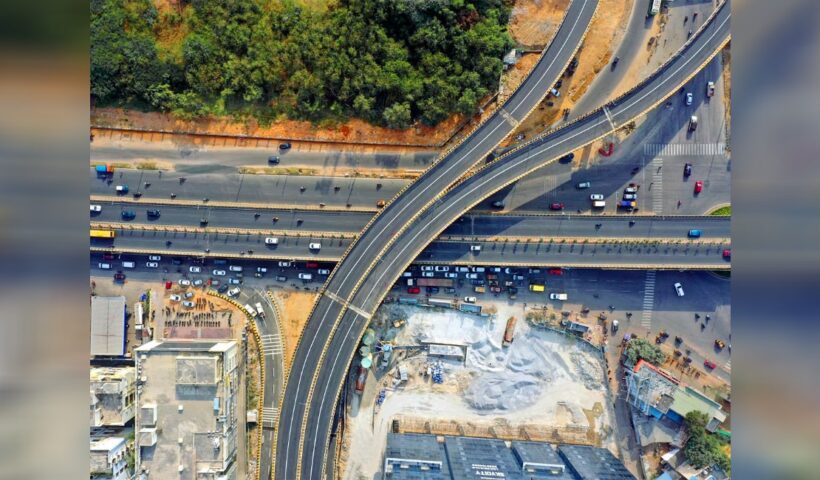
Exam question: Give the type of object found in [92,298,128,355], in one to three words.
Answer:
shed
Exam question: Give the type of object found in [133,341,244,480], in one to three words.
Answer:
building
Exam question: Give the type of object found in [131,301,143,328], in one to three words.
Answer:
vehicle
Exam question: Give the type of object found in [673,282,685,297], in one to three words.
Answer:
vehicle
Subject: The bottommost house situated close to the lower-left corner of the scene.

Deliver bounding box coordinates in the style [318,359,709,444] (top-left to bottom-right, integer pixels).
[54,432,124,480]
